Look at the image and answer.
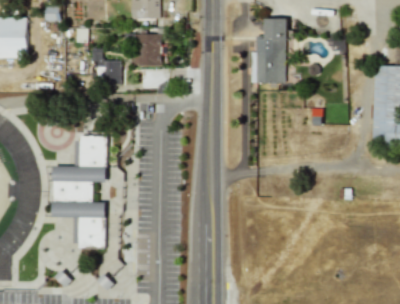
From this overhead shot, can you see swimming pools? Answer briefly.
Yes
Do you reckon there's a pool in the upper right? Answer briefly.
Yes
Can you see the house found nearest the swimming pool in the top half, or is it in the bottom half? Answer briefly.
top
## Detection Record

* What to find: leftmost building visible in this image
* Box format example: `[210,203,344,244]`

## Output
[0,16,27,58]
